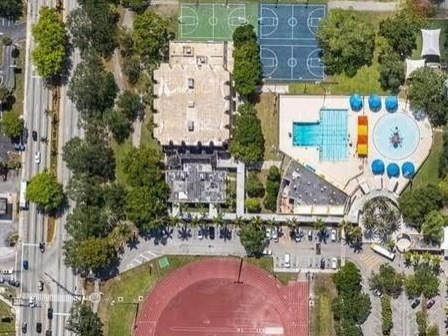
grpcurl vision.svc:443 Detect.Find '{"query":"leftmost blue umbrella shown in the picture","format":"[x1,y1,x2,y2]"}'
[350,95,363,109]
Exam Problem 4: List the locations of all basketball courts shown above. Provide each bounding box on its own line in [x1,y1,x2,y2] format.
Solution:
[176,2,257,41]
[257,2,327,42]
[258,42,327,82]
